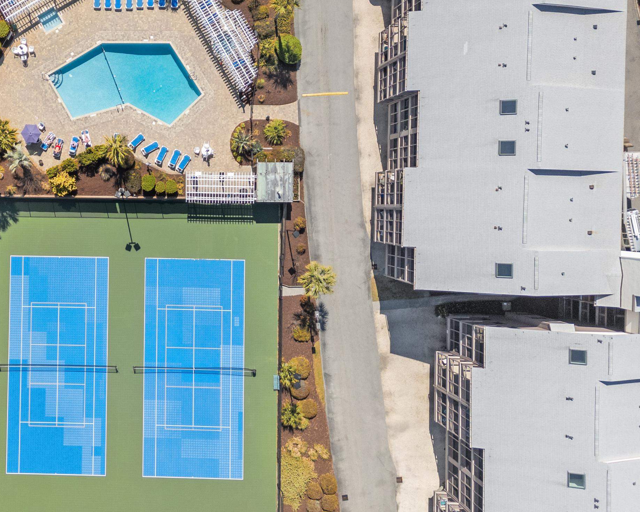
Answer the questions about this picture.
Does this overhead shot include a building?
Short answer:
Yes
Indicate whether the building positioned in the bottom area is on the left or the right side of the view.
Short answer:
right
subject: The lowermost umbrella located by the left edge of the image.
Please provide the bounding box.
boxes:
[21,125,41,143]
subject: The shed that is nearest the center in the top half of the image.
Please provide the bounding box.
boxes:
[253,159,294,201]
